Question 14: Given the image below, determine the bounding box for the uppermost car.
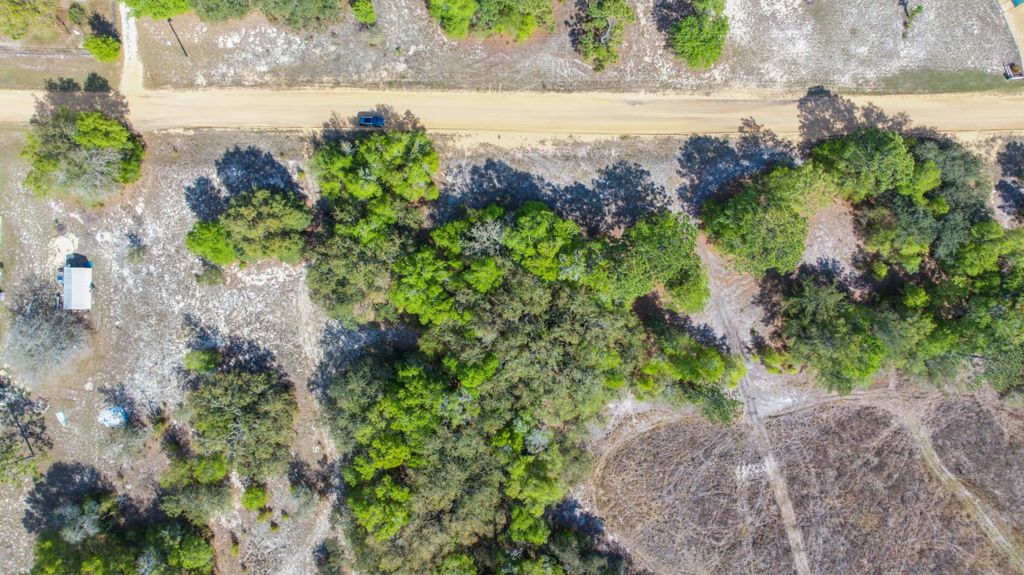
[357,114,384,127]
